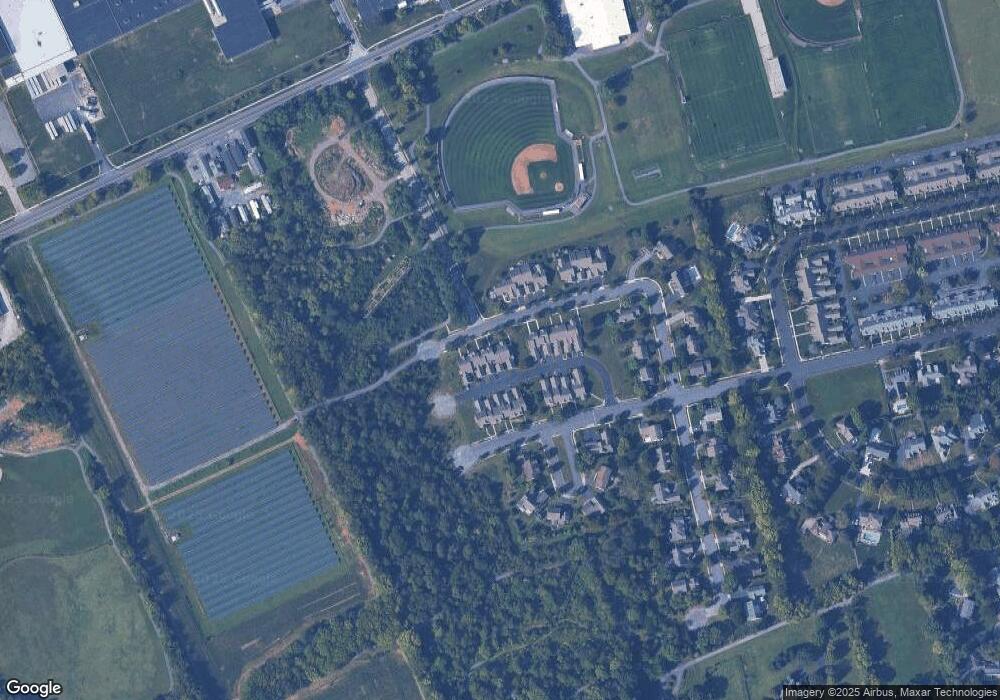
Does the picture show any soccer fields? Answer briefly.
Yes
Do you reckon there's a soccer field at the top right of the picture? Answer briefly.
Yes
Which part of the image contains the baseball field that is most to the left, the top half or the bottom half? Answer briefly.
top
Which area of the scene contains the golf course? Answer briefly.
bottom left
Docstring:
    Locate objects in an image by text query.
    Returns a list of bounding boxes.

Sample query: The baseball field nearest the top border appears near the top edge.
[776,0,861,45]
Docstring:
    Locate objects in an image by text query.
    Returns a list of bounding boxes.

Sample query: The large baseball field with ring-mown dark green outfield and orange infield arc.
[438,74,579,212]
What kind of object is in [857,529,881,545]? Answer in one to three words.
swimming pool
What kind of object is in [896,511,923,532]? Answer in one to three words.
house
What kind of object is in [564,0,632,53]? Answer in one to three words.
building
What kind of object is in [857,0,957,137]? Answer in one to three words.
soccer field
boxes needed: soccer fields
[857,0,957,137]
[663,17,787,168]
[800,47,880,152]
